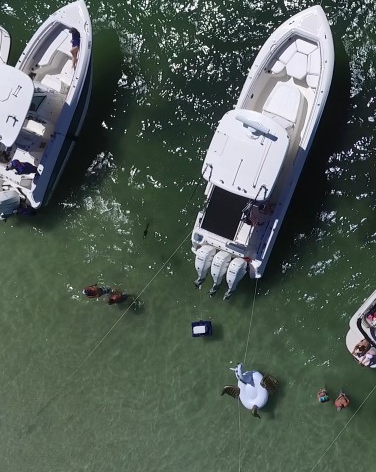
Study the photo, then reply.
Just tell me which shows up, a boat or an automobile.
boat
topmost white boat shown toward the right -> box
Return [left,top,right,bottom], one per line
[184,5,335,301]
